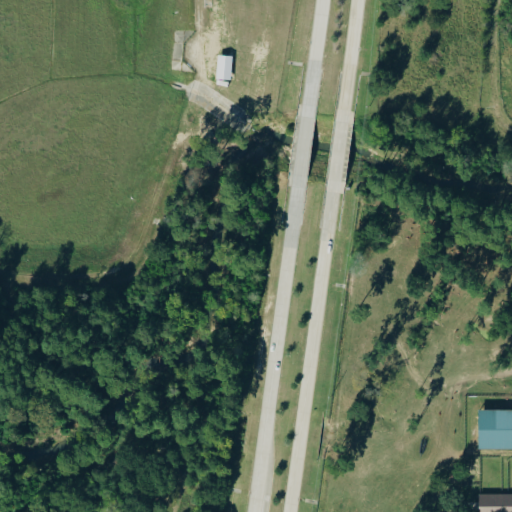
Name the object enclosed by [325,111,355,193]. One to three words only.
bridge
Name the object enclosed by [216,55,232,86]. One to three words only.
shed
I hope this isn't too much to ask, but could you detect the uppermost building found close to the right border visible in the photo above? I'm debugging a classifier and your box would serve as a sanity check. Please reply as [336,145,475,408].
[478,410,512,450]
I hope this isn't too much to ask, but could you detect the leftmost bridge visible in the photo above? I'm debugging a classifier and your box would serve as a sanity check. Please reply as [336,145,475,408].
[287,104,318,187]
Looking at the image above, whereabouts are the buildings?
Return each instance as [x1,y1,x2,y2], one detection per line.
[478,494,512,512]
[216,55,232,86]
[478,410,512,450]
